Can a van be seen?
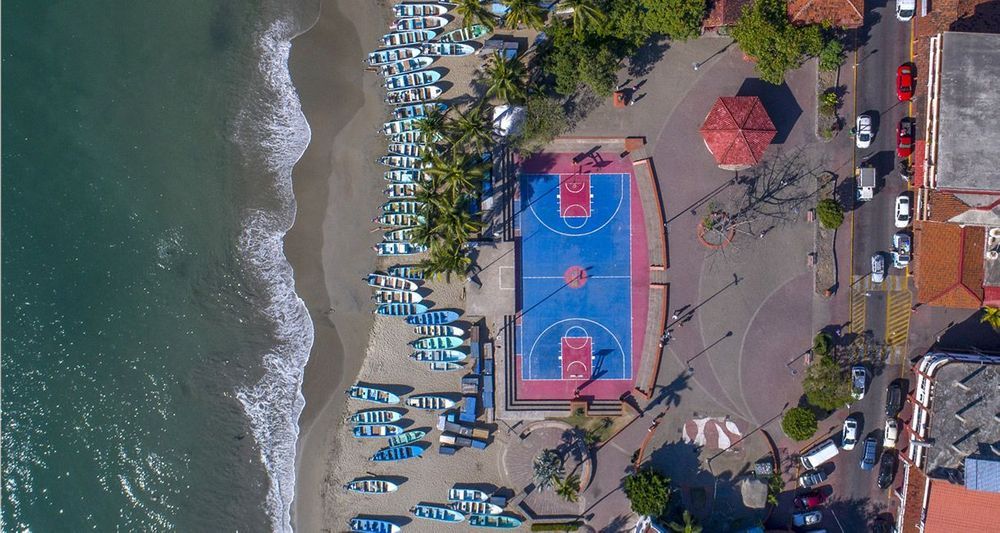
Yes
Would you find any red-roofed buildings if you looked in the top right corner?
Yes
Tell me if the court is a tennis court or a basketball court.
basketball court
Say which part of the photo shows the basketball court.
center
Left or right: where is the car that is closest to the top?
right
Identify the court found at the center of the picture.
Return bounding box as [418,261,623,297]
[512,152,650,401]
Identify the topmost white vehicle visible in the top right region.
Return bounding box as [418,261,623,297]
[896,0,917,23]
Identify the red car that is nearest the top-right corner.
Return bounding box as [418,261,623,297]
[895,65,915,102]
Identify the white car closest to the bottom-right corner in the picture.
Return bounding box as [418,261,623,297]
[882,417,898,448]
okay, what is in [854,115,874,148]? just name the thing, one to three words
car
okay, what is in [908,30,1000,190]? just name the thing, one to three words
building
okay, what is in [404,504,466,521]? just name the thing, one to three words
boat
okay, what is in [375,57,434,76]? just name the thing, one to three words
boat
